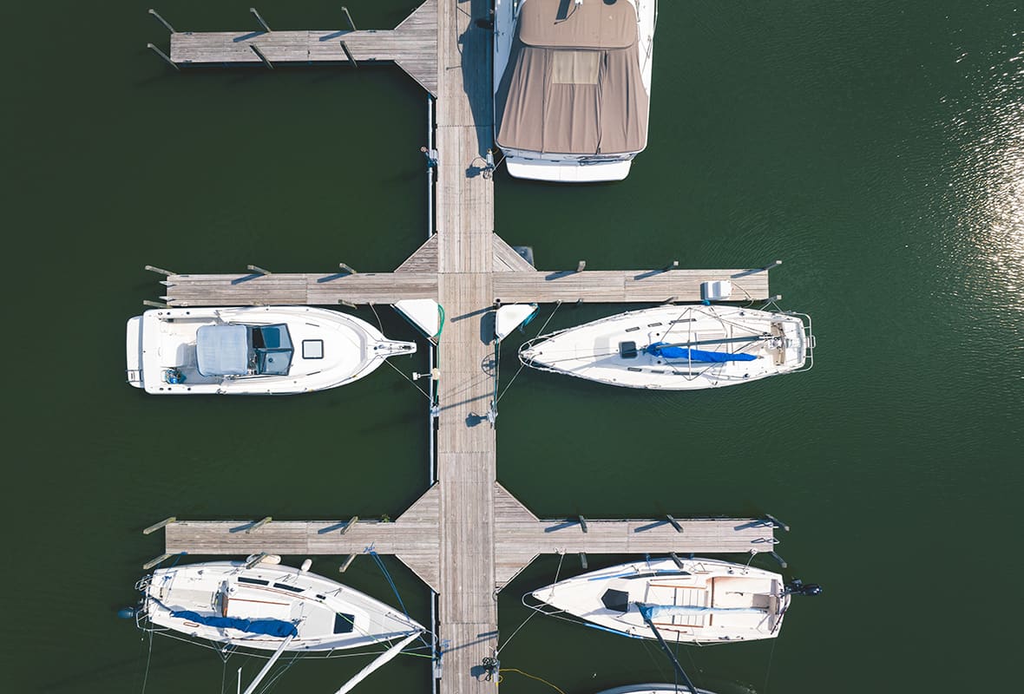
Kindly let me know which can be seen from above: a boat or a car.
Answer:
boat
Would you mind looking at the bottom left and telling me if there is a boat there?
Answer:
Yes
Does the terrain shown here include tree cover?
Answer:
No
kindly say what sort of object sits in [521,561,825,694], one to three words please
boat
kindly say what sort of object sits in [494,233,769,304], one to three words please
pier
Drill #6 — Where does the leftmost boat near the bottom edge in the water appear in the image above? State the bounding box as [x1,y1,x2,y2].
[116,560,436,694]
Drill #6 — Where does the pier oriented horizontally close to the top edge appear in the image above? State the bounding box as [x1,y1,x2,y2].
[171,0,437,98]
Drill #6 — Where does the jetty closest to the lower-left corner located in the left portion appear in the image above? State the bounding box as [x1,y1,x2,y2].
[165,483,441,592]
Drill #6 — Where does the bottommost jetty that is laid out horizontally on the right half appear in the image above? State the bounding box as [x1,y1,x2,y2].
[496,482,774,592]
